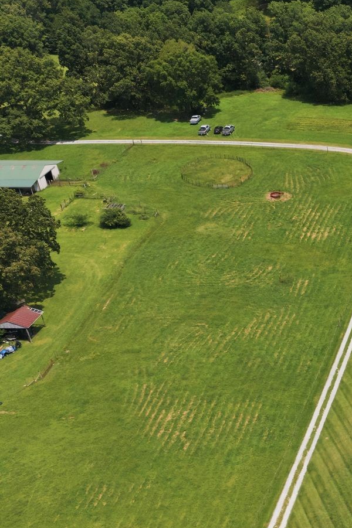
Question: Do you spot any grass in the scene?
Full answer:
Yes, the picture does contain grass.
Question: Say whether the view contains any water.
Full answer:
No, the scene doesn't show any water.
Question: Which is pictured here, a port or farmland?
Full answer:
What you see here is farmland.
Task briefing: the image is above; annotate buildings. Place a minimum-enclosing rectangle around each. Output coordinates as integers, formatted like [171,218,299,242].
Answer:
[0,307,47,343]
[0,160,65,195]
